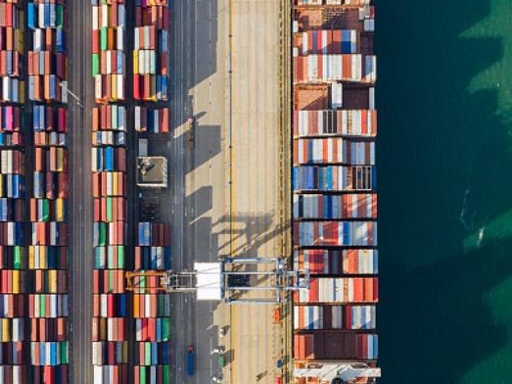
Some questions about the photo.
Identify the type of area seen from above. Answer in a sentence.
This looks like a port.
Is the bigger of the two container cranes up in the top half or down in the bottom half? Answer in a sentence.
The bottom half of the photo is where the bigger of the two container cranes is.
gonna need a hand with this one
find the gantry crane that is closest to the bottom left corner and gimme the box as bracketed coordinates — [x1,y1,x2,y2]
[123,268,179,292]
